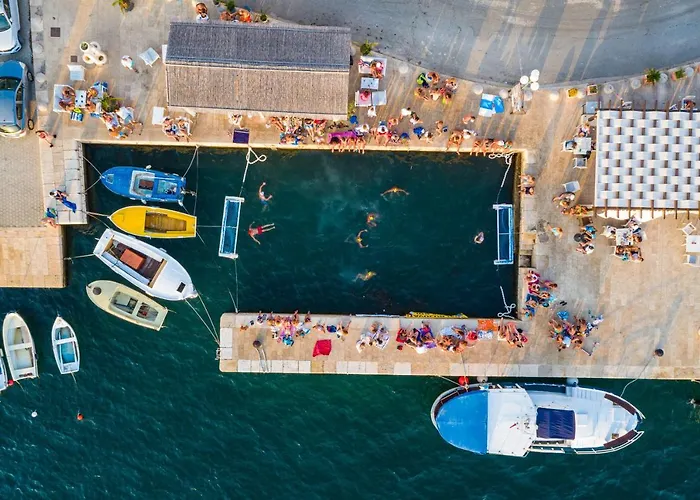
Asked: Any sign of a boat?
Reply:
Yes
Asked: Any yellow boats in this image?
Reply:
Yes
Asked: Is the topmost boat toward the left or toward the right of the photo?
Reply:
left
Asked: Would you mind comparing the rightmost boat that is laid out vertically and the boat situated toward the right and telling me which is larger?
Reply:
the boat situated toward the right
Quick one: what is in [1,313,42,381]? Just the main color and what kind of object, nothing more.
white boat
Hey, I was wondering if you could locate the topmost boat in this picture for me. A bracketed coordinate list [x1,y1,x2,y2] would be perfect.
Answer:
[97,163,198,205]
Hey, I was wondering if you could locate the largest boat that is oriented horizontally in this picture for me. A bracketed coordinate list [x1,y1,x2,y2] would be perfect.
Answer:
[428,382,649,461]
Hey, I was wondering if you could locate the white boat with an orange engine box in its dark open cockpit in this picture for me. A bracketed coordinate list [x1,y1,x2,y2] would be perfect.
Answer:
[93,229,196,301]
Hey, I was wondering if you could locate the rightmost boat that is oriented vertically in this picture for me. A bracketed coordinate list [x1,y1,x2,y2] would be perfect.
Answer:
[50,316,82,375]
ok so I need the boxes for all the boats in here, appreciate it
[0,338,11,388]
[105,205,200,239]
[93,229,196,301]
[50,316,82,375]
[1,313,42,381]
[81,282,170,330]
[428,382,649,461]
[97,163,198,205]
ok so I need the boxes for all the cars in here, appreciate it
[0,0,27,55]
[0,55,31,136]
